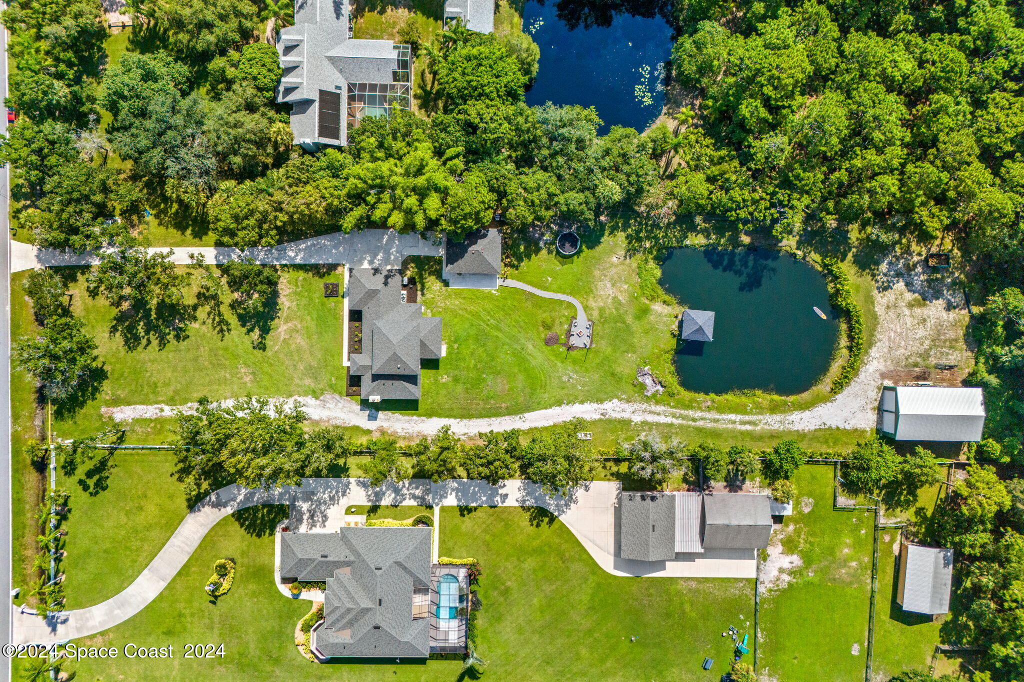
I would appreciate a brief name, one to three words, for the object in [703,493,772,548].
building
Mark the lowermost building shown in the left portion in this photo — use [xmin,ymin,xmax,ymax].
[281,526,433,657]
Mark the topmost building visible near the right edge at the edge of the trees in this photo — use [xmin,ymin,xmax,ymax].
[883,386,988,441]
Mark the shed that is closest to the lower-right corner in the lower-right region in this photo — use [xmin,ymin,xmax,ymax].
[895,542,953,615]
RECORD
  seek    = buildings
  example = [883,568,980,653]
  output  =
[895,542,953,615]
[680,309,715,341]
[348,267,442,403]
[276,0,396,152]
[281,526,433,657]
[883,386,988,441]
[444,0,494,35]
[703,493,772,548]
[446,228,501,274]
[620,492,675,561]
